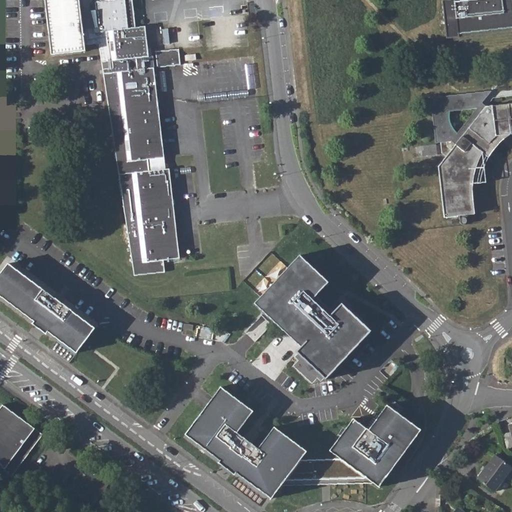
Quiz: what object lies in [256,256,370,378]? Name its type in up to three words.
building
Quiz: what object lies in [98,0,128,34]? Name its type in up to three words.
building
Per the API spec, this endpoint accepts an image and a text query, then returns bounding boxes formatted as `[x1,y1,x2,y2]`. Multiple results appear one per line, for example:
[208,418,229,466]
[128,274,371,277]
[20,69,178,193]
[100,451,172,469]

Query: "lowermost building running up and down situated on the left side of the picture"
[0,404,35,478]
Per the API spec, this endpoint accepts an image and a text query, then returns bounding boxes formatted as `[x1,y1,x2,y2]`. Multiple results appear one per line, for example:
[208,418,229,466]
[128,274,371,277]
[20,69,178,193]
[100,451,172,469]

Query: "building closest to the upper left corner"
[46,0,85,54]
